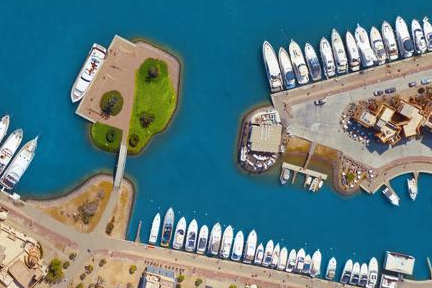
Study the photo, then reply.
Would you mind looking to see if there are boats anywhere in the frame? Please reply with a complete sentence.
Yes, a boat can be made out from above.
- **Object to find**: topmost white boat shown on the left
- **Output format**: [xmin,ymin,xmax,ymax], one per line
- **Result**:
[72,43,107,102]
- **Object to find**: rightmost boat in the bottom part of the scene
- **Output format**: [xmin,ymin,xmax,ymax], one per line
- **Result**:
[405,176,417,199]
